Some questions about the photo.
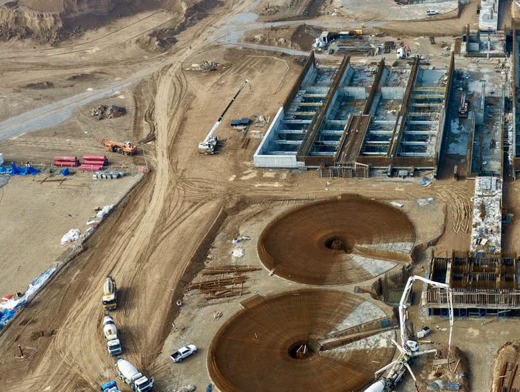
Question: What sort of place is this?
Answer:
industrial area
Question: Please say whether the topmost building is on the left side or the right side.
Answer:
right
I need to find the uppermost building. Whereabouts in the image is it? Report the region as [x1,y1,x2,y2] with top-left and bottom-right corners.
[416,251,520,317]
